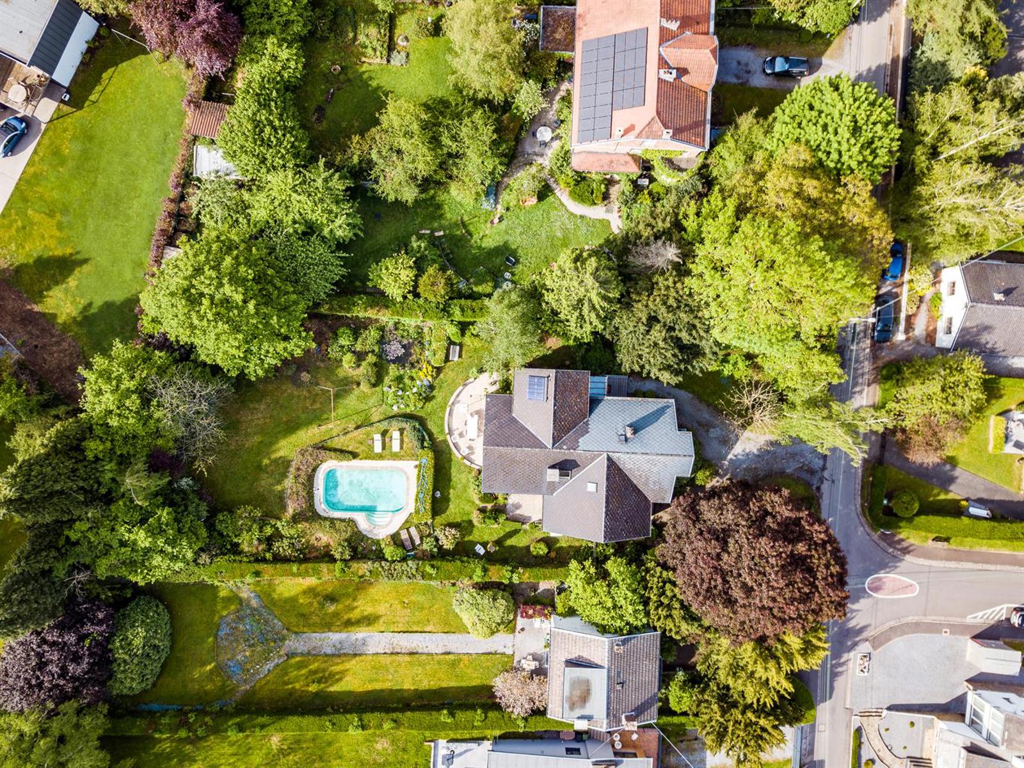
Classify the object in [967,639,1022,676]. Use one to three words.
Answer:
building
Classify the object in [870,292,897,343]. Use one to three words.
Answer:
car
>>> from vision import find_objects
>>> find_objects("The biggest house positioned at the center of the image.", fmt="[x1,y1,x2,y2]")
[481,368,695,543]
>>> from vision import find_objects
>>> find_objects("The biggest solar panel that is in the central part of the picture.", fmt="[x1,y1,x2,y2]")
[526,373,549,403]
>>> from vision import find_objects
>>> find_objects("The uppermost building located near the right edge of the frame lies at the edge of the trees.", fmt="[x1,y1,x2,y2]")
[938,262,1024,355]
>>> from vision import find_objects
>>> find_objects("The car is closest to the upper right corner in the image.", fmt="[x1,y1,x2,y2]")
[761,54,810,79]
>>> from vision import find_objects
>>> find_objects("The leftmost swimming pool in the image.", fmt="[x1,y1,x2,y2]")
[314,460,417,539]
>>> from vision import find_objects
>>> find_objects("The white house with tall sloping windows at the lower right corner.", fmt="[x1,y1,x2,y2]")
[942,684,1024,755]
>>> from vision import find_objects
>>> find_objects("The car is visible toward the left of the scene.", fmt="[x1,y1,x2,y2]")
[0,114,33,158]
